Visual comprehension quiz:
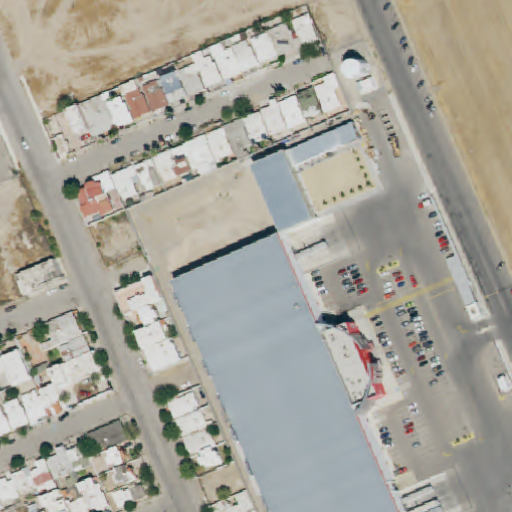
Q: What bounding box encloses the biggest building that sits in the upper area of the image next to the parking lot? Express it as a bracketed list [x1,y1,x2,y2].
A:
[252,150,318,231]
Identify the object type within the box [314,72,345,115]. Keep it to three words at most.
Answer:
house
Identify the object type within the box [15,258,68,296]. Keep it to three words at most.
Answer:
building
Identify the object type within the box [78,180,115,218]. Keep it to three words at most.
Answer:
house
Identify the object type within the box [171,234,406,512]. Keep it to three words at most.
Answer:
building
